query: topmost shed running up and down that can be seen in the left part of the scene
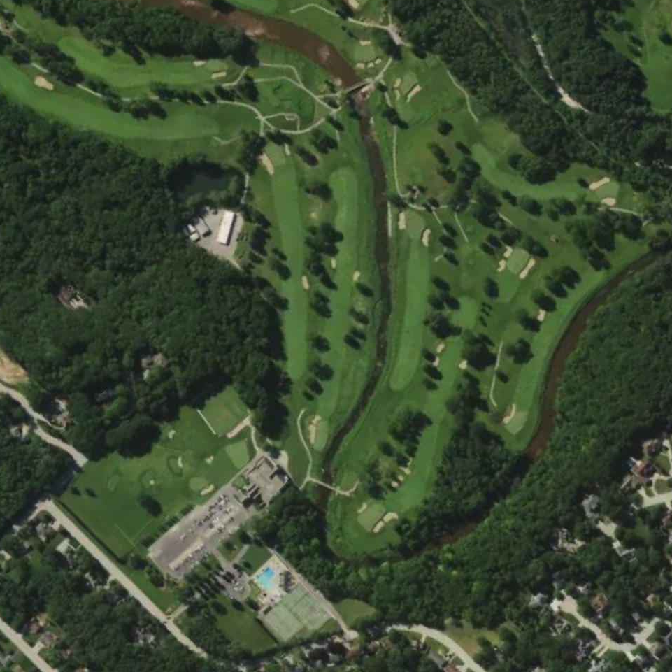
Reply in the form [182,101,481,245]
[217,211,234,244]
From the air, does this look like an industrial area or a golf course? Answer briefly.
golf course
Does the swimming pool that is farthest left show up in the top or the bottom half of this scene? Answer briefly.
bottom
